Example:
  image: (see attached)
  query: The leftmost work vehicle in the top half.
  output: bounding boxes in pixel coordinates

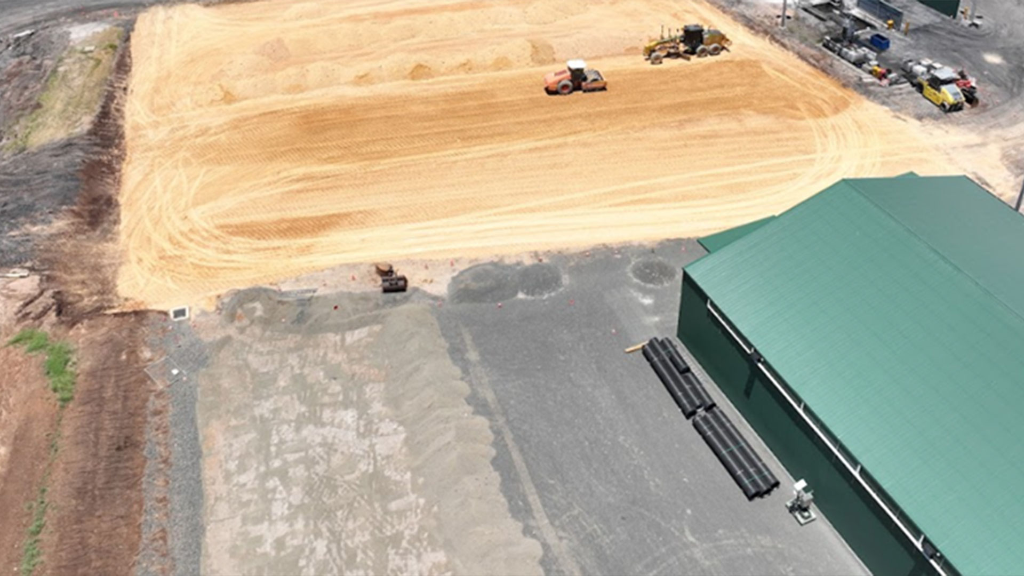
[546,53,610,94]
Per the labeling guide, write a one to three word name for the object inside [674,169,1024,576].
shed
